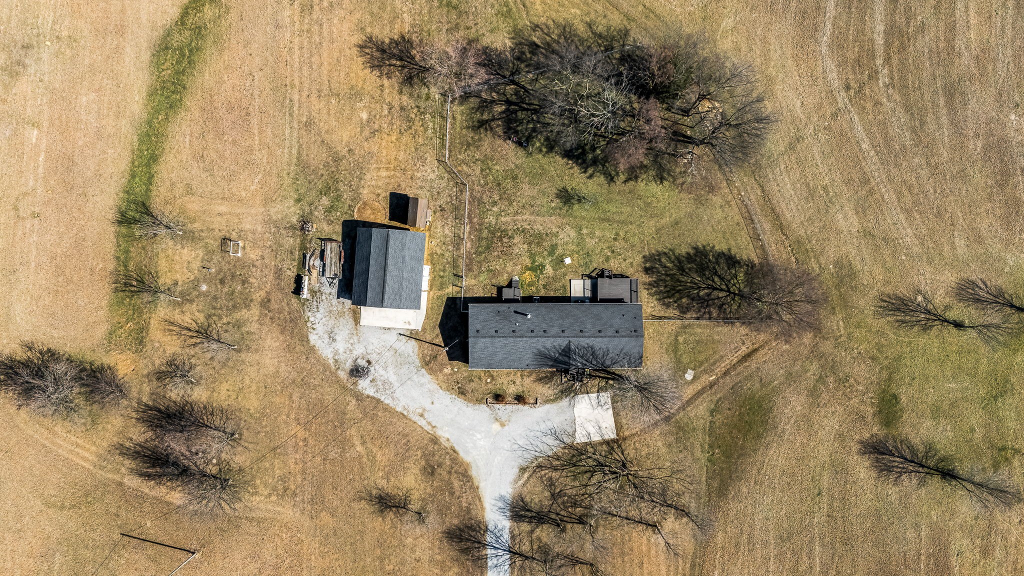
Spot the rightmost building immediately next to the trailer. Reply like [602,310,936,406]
[352,228,426,309]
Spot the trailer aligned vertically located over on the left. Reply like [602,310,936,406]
[322,243,342,289]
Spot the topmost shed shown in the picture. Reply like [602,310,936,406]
[409,195,432,229]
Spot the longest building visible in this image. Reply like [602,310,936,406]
[469,302,644,372]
